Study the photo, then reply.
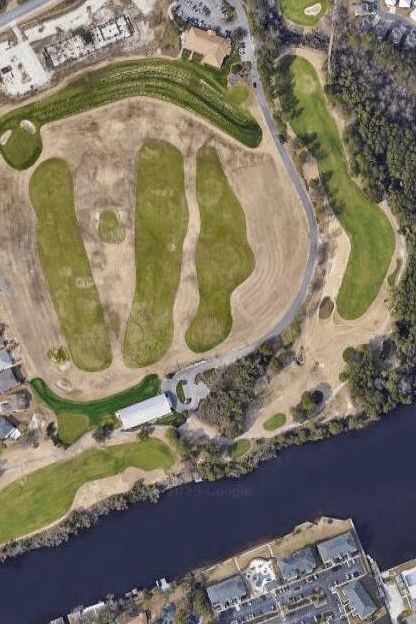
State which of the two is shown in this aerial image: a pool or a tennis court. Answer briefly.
pool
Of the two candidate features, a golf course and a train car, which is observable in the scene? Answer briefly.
golf course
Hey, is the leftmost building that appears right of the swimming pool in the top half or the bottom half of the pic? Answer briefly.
bottom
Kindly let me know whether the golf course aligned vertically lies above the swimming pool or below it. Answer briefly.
above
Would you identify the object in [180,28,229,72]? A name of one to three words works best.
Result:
building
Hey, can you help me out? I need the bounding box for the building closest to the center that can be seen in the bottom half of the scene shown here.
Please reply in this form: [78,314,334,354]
[115,393,171,430]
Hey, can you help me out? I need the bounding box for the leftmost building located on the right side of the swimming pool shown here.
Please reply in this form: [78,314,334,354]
[275,548,317,581]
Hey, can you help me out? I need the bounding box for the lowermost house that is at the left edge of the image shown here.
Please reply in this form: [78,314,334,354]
[0,413,20,444]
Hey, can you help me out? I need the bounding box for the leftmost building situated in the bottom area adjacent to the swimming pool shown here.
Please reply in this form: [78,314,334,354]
[205,574,250,607]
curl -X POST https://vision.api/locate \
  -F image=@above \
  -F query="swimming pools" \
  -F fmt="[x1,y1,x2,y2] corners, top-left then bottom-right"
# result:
[245,559,276,597]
